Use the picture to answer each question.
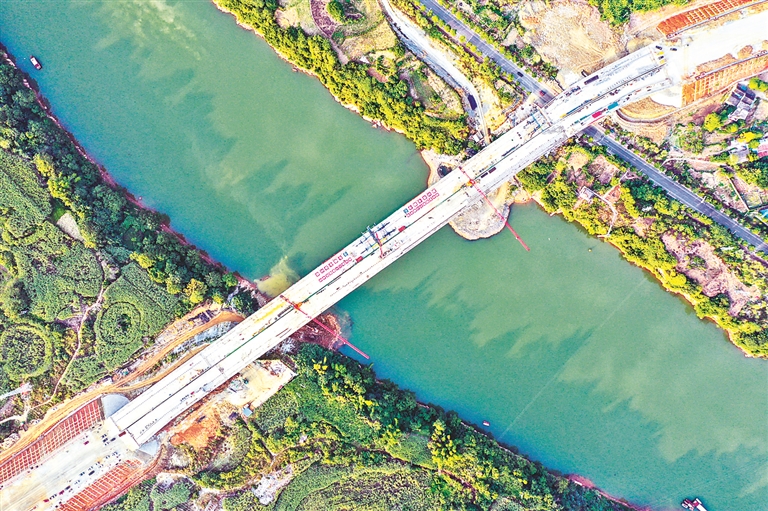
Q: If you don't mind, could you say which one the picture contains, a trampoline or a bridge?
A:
bridge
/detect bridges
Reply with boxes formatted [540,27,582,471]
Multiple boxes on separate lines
[110,43,674,447]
